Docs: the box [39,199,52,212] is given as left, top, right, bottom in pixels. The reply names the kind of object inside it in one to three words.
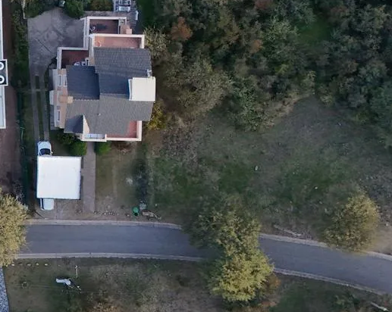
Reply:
vehicle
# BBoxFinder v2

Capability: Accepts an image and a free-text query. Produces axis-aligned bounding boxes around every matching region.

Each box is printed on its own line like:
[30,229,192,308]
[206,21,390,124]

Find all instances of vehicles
[37,139,51,156]
[39,199,52,212]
